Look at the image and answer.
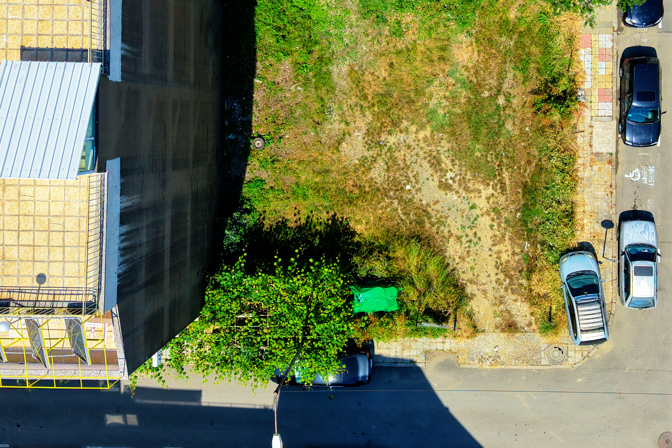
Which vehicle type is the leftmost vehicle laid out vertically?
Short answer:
car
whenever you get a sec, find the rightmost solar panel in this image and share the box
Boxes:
[65,316,93,366]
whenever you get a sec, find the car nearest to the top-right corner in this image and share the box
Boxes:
[619,0,660,34]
